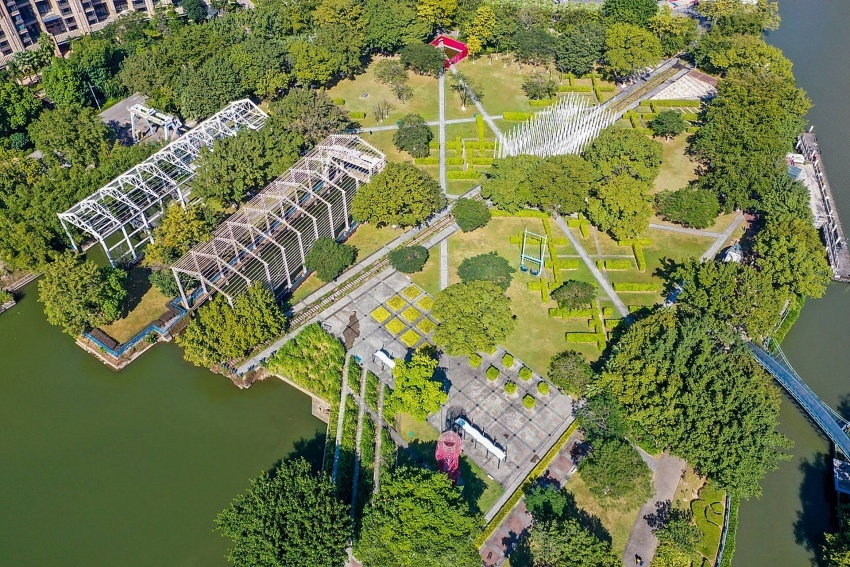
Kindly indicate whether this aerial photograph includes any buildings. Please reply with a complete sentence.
Yes, I can see a building in this picture.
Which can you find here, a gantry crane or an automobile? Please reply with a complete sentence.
Looking from above, you can make out a gantry crane.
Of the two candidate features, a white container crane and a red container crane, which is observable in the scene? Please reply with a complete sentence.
I can see a white container crane in this picture.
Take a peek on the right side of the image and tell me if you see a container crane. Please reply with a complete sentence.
No, there's no container crane to be seen on the right side of the image.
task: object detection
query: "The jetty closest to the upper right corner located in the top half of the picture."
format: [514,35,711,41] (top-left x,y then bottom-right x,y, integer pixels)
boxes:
[802,131,850,287]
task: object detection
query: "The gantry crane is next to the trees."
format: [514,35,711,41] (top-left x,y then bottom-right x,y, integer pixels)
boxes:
[126,109,185,159]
